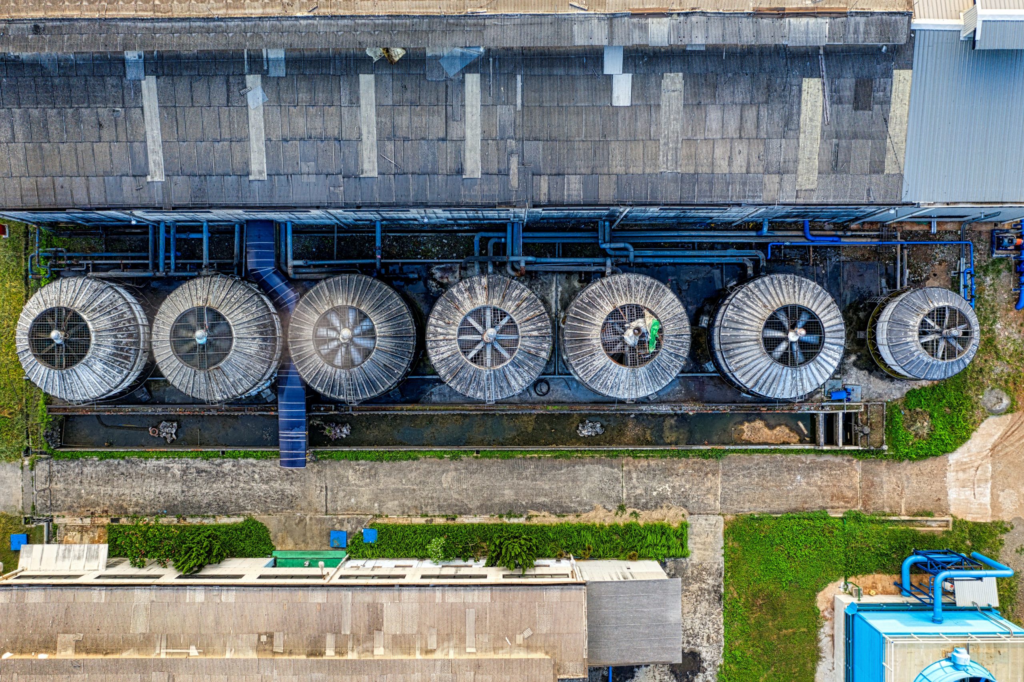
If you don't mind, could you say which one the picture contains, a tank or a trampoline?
tank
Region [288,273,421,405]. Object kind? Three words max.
cooling tower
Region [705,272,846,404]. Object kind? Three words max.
cooling tower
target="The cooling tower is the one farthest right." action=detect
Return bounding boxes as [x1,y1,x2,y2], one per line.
[860,286,981,381]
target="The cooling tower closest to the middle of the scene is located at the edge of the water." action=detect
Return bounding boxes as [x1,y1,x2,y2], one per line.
[426,274,553,405]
